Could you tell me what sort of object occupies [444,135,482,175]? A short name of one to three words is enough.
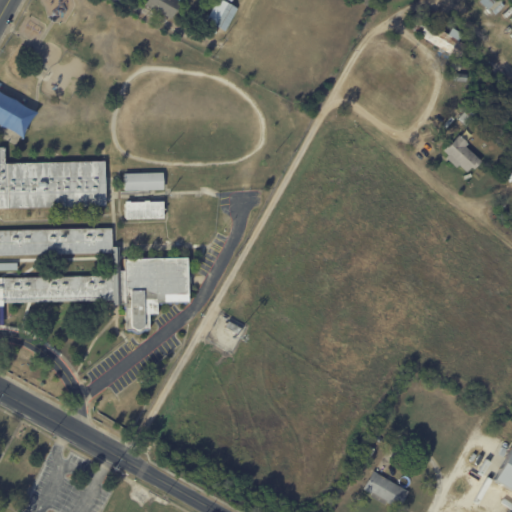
house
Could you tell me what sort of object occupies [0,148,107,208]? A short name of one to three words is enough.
building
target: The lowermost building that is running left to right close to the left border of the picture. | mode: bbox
[3,276,114,302]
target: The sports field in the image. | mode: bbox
[118,72,260,160]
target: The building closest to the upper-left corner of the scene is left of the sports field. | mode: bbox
[0,92,38,140]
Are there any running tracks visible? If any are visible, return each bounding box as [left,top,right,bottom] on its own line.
[110,65,266,168]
